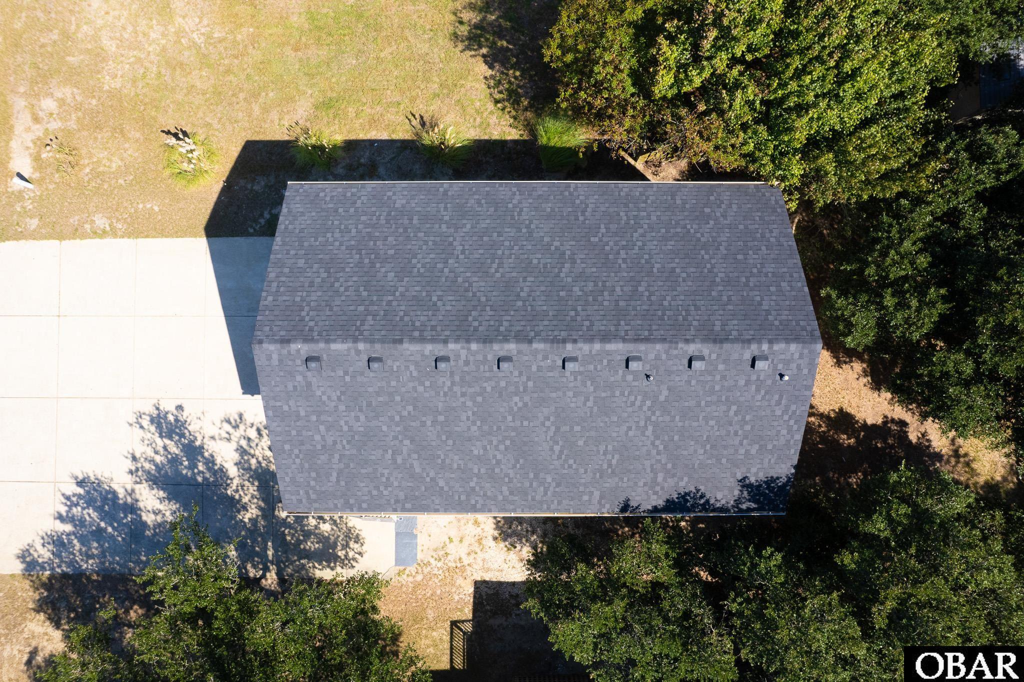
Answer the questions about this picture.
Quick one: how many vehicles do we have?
none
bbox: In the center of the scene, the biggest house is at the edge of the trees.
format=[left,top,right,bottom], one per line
[253,180,822,516]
